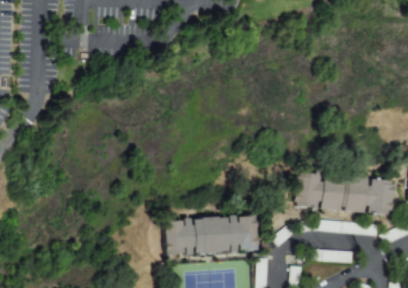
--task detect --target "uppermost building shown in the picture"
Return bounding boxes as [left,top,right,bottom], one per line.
[296,172,395,214]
